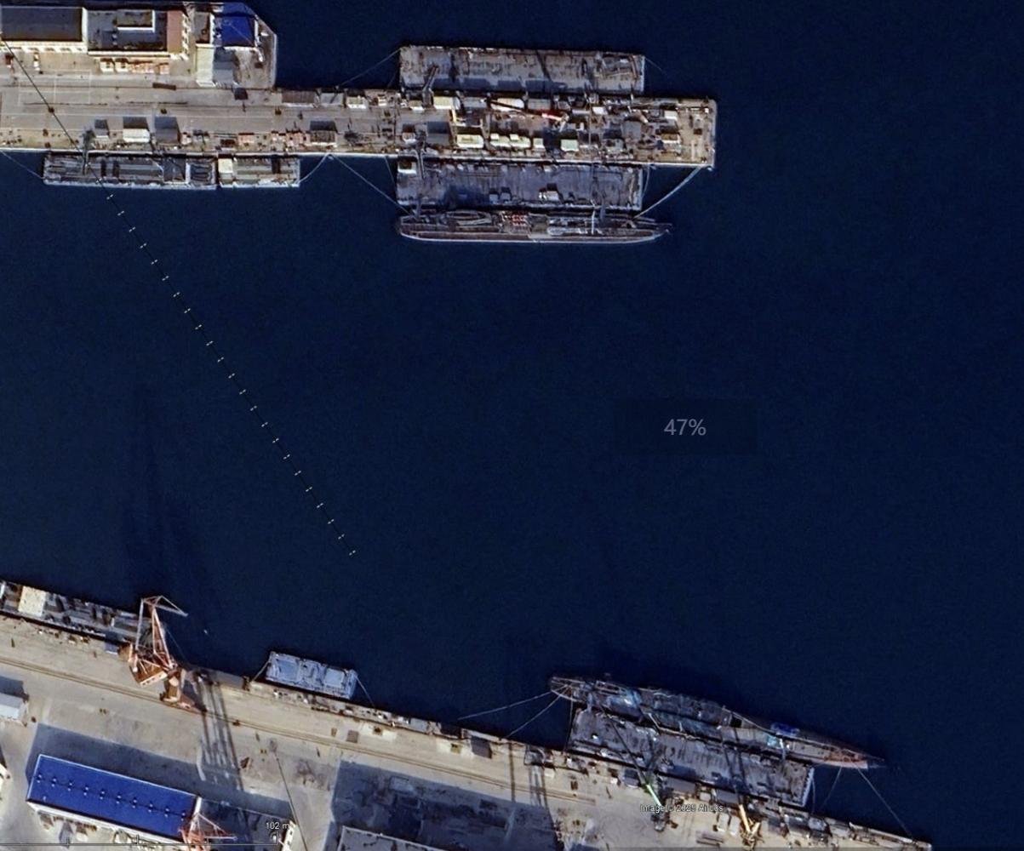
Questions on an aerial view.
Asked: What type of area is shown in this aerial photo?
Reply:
port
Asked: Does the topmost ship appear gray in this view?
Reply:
Yes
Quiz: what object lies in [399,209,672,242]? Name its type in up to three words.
ship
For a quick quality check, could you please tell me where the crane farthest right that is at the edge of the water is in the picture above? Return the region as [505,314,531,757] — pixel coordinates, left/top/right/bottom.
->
[725,723,761,849]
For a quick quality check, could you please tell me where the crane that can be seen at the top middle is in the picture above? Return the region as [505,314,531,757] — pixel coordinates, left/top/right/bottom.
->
[491,99,572,134]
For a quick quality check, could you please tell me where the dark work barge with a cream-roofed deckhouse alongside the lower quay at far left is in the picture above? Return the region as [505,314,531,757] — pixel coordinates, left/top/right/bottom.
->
[0,581,151,641]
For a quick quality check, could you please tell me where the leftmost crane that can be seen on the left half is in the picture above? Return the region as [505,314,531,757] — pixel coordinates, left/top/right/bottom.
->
[119,596,211,712]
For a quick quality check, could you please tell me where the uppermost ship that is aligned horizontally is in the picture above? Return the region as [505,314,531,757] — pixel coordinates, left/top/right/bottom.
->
[401,43,645,95]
